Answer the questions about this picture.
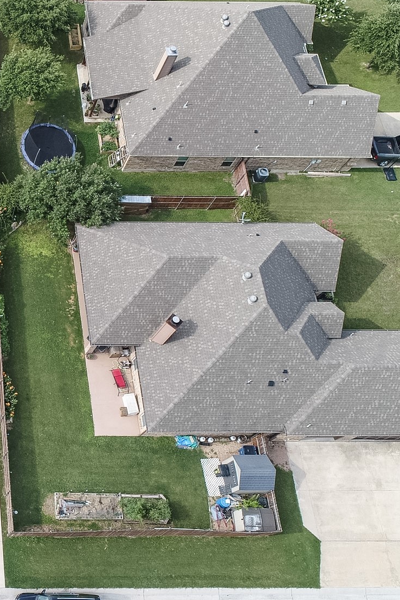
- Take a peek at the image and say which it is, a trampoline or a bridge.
trampoline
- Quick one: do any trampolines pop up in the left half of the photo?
Yes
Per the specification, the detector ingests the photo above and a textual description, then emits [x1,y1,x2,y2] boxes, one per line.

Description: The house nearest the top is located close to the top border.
[81,0,382,175]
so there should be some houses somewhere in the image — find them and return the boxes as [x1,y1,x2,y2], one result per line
[75,211,400,442]
[81,0,382,175]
